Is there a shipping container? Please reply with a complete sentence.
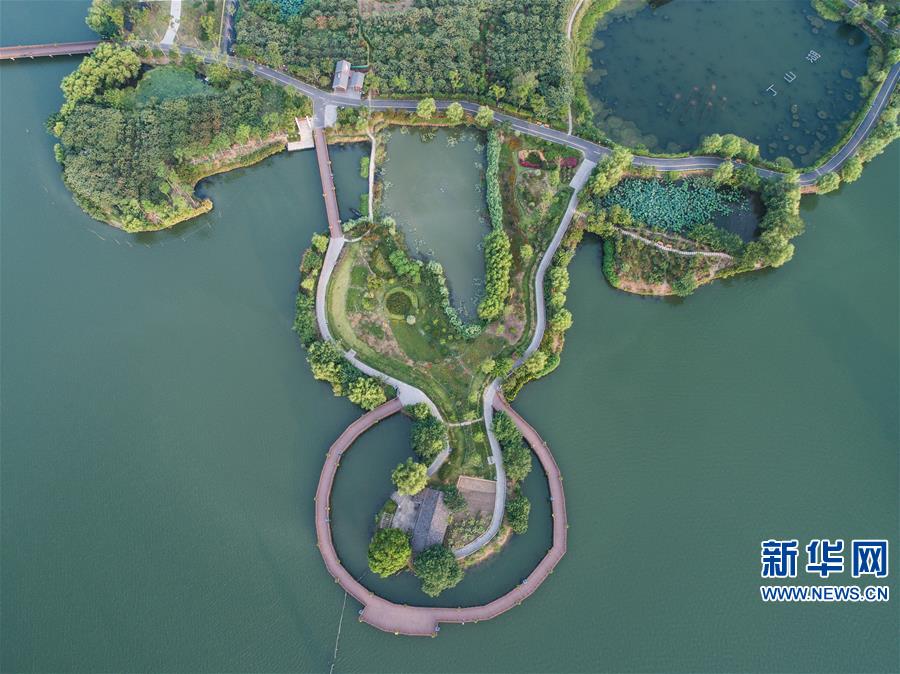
No, I find no shipping container anywhere in the image.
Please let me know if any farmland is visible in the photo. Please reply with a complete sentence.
No, there's no farmland in this view.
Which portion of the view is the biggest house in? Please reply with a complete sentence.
The biggest house is in the bottom part of the image.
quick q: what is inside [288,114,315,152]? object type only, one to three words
pier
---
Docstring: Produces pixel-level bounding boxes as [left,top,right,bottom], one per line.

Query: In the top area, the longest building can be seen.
[333,60,351,91]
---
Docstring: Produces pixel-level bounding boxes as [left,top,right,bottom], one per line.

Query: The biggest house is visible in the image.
[411,489,447,547]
